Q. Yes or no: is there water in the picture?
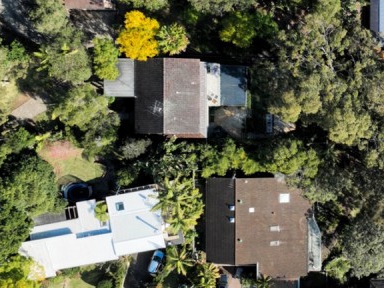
No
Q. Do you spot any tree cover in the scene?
Yes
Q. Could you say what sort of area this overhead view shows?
residential area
